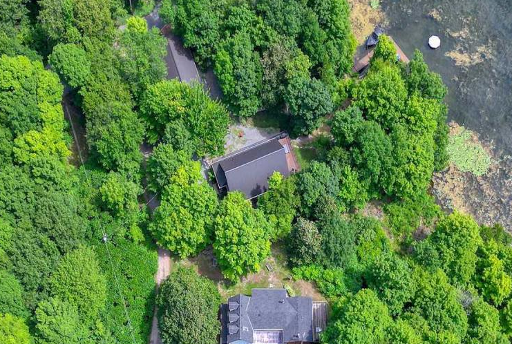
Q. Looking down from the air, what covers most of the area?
trees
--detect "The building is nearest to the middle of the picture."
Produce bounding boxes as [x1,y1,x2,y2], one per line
[212,132,299,201]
